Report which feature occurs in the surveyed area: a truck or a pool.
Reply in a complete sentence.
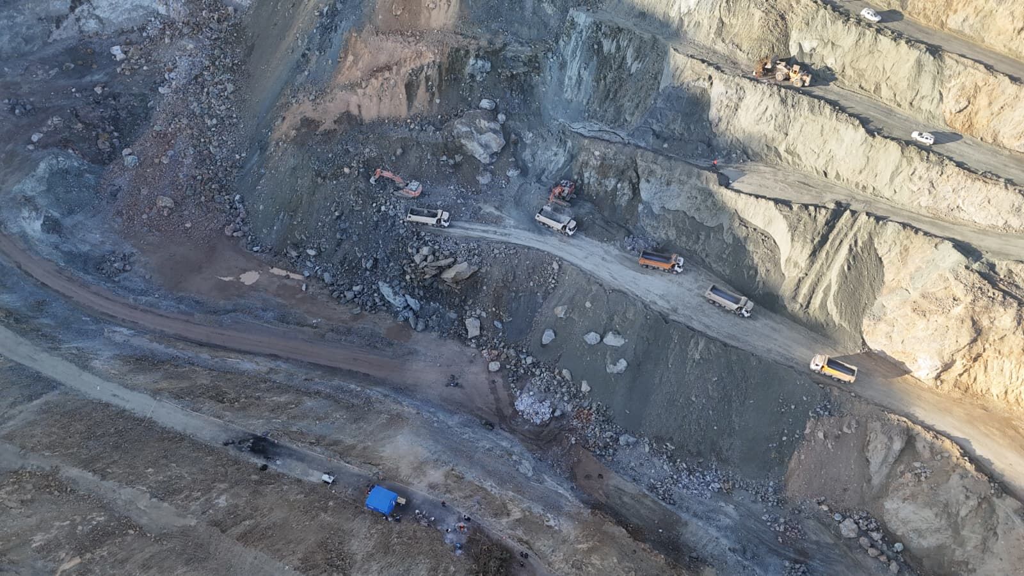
It is a truck that can be seen here.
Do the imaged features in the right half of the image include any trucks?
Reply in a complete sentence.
Yes, a truck is visible in the right half of the image.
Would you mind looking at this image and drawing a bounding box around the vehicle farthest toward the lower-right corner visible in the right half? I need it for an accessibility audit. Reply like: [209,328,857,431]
[806,351,868,386]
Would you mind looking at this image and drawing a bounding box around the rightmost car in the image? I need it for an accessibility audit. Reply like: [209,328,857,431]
[910,131,940,146]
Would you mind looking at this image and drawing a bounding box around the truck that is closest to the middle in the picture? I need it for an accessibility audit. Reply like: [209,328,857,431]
[534,205,580,237]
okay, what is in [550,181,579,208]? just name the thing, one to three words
work vehicle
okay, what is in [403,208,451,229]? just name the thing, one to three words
truck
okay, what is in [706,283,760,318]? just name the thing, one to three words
truck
